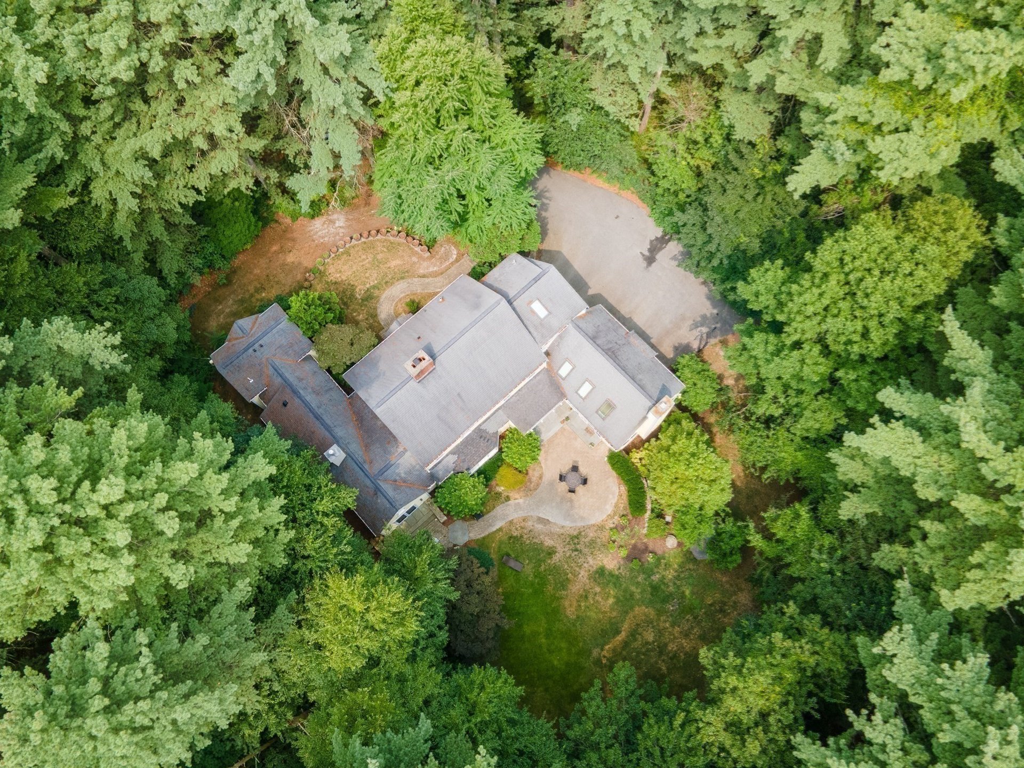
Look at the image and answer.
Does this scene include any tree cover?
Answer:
Yes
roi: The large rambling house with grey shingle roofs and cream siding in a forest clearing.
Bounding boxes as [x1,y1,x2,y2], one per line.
[213,249,682,538]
